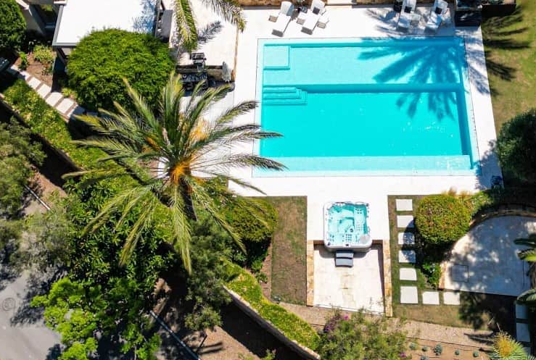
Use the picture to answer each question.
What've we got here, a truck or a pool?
pool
